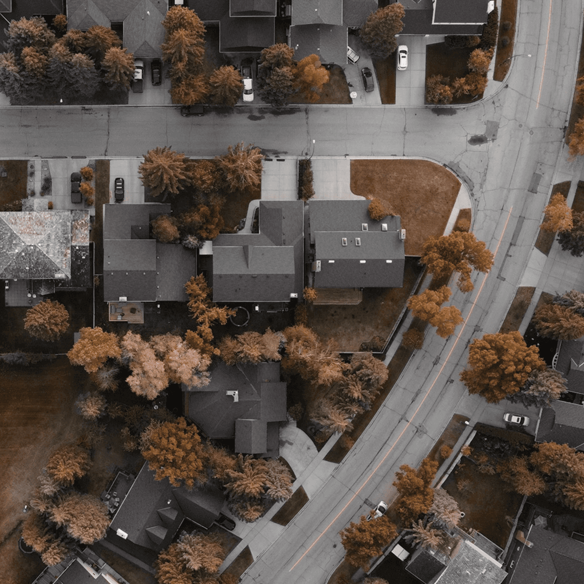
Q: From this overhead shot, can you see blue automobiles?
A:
No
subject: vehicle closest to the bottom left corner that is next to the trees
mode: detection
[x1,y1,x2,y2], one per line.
[217,513,236,529]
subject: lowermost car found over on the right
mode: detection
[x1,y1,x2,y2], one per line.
[368,495,389,520]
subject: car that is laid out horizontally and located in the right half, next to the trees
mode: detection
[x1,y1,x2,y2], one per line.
[500,413,528,426]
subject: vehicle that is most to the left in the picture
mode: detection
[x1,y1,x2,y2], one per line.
[69,172,82,204]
